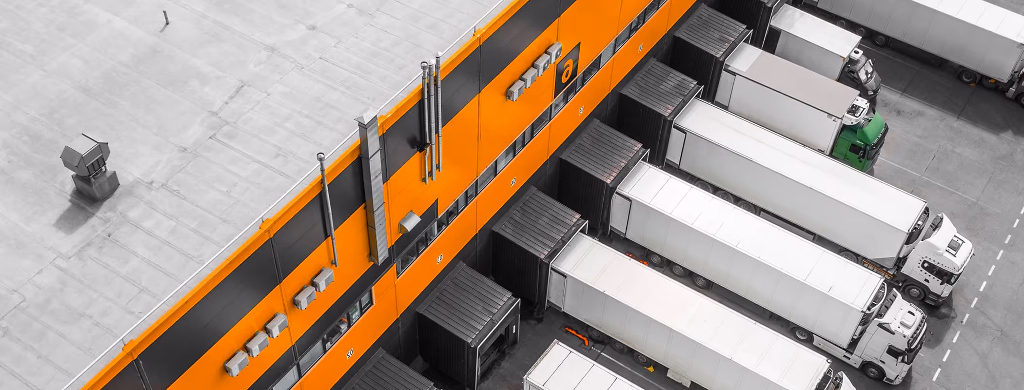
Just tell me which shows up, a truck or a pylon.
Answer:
truck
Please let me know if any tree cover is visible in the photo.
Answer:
No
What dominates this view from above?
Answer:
buildings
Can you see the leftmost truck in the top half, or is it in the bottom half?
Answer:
bottom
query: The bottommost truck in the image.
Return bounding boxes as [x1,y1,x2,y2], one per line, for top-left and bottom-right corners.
[523,339,647,390]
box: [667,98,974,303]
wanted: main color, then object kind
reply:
white truck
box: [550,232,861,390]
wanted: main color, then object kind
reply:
white truck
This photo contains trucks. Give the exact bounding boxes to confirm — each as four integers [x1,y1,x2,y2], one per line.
[612,162,931,382]
[717,43,894,175]
[667,98,974,303]
[523,339,647,390]
[550,232,861,390]
[803,0,1024,105]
